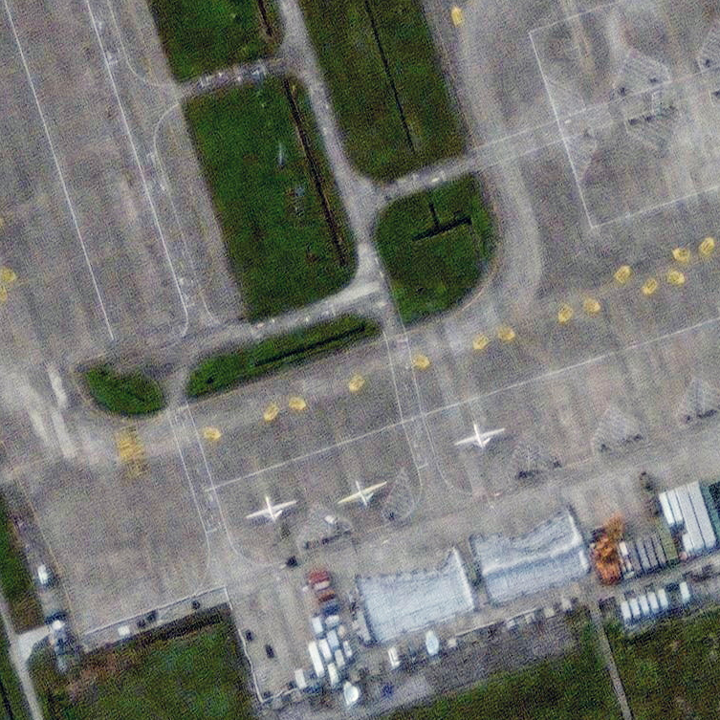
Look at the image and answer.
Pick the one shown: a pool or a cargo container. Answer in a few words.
cargo container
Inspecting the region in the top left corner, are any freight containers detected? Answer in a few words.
No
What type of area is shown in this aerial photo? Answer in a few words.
airport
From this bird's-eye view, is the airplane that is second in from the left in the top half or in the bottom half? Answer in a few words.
bottom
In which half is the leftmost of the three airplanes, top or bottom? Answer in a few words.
bottom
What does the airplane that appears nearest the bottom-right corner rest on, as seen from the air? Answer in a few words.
apron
